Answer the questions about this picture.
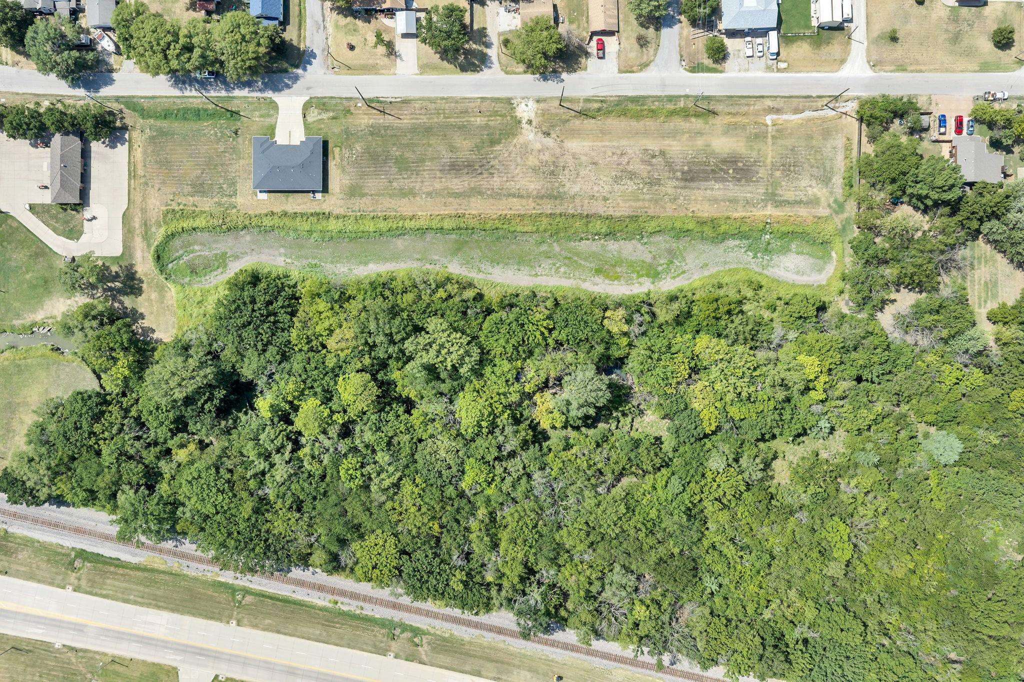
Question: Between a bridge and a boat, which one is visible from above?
boat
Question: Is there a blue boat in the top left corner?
No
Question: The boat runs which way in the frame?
diagonally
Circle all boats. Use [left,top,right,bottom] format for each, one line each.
[95,30,121,56]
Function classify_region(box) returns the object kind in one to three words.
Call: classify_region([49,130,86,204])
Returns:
building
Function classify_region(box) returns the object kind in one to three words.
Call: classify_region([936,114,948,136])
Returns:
vehicle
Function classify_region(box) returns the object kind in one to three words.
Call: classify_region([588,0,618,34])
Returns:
house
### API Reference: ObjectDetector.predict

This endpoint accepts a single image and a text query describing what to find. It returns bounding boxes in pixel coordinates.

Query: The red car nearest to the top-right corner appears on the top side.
[953,115,965,136]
